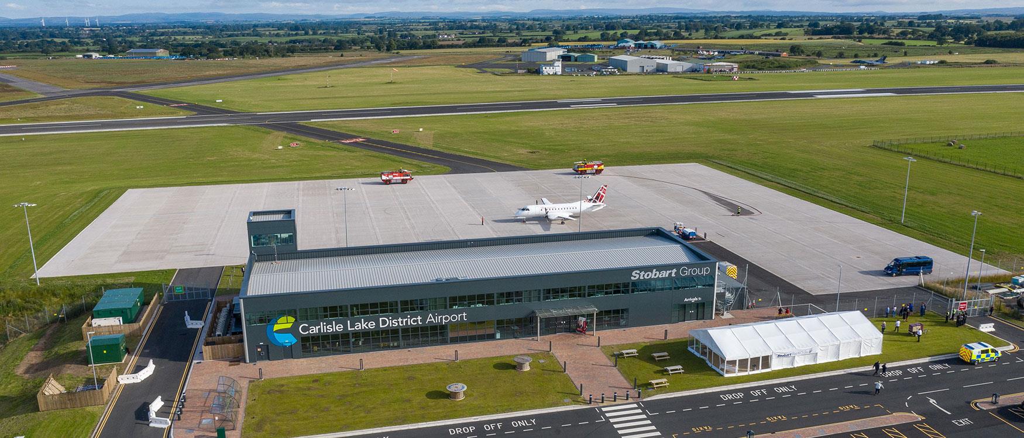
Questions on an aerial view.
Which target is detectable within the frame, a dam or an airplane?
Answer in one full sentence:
The image shows an airplane.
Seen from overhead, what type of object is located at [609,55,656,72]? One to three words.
building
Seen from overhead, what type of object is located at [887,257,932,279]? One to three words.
vehicle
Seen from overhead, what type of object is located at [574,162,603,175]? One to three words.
vehicle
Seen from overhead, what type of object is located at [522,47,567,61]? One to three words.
hangar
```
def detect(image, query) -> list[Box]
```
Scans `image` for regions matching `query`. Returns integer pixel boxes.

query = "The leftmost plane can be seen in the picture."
[513,186,602,223]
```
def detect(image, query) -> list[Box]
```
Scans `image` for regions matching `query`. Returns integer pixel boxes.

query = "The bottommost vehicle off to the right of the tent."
[958,342,1003,364]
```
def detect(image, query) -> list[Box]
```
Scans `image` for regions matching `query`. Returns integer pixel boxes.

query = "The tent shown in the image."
[686,310,884,376]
